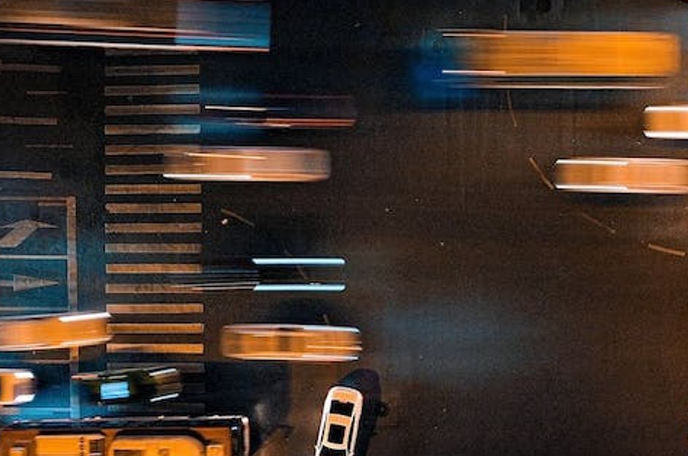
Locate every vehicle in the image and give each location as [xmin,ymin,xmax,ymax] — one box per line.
[0,368,36,405]
[448,29,679,96]
[248,252,348,297]
[579,152,677,197]
[206,142,294,185]
[11,0,280,62]
[243,321,342,366]
[84,363,179,406]
[6,310,96,353]
[2,412,252,456]
[314,385,365,456]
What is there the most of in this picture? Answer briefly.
paved ground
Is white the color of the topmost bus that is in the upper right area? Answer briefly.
No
